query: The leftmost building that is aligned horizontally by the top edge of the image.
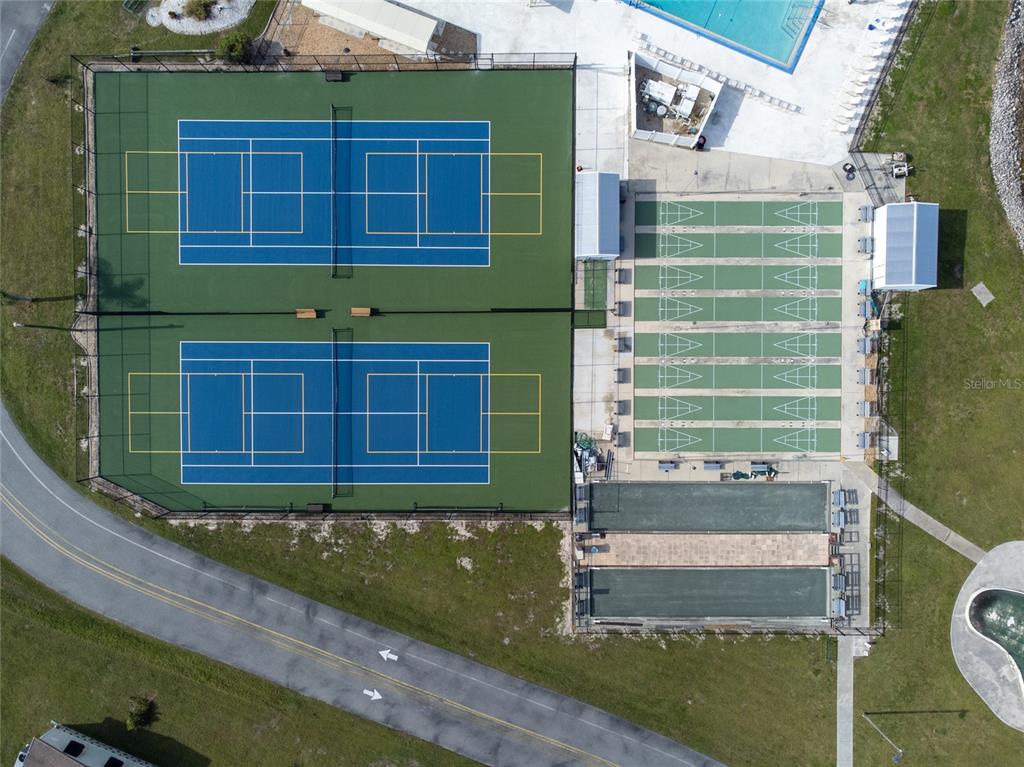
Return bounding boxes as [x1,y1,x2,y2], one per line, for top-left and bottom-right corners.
[298,0,438,58]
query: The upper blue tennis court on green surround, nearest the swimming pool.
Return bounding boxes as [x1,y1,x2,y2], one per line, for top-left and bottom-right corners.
[94,69,571,313]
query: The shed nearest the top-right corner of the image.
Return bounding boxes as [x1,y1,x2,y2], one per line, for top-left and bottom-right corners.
[873,200,938,288]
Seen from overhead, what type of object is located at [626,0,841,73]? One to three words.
swimming pool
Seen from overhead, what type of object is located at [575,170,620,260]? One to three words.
shed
